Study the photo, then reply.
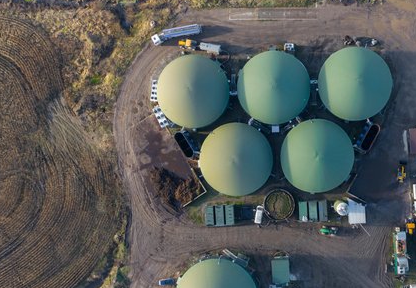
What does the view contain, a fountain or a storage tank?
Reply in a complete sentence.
The image shows a storage tank.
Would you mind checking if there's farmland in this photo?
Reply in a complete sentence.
Yes, the picture does contain farmland.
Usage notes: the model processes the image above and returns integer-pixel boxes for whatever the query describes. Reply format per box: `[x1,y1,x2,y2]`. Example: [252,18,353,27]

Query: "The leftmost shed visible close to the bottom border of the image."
[272,256,289,284]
